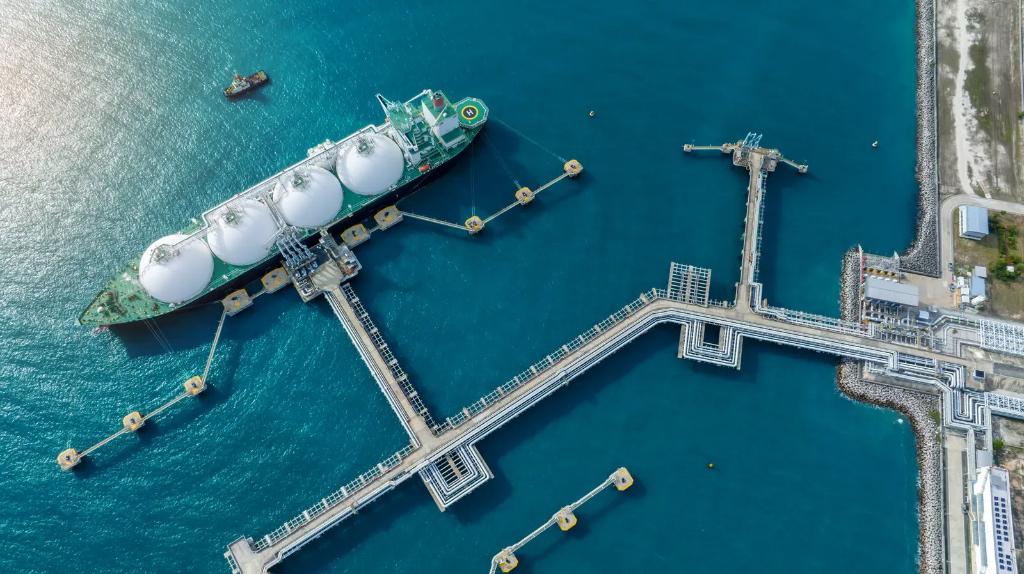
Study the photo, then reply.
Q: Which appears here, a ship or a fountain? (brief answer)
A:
ship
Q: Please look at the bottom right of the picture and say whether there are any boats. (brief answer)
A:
No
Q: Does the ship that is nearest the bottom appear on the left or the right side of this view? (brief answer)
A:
left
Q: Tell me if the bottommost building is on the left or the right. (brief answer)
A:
right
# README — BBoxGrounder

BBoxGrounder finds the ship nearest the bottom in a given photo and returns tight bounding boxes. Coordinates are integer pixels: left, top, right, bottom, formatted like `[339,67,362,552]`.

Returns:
[75,86,487,328]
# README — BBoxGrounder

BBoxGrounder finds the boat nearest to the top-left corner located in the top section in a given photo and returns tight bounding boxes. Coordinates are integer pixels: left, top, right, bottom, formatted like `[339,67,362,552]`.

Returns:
[223,70,270,95]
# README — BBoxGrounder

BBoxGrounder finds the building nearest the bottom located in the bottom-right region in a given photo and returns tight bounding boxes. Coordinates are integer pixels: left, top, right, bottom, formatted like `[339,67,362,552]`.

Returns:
[971,467,1019,574]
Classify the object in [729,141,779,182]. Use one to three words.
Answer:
pier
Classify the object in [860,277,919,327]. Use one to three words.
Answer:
building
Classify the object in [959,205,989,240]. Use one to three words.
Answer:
building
